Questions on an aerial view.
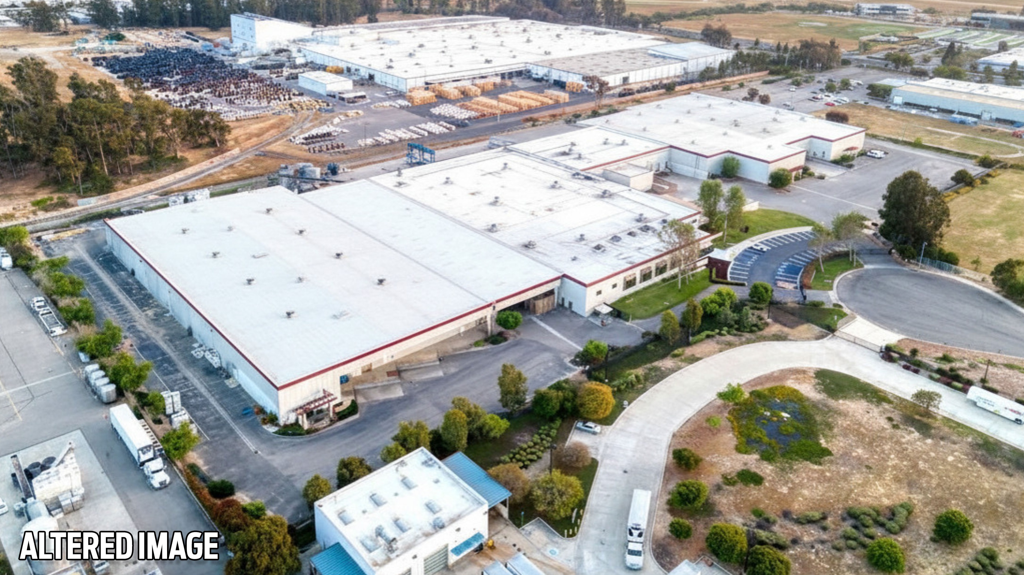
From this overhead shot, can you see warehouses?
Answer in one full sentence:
Yes, there's a warehouse down there.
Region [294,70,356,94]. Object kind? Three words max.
shed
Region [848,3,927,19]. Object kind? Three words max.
building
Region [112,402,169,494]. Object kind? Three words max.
truck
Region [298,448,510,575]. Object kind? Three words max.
building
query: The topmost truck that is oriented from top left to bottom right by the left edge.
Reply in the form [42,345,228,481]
[30,292,67,337]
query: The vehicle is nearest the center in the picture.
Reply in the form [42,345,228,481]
[572,417,605,434]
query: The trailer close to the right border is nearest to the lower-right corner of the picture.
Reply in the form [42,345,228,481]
[962,388,1024,432]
